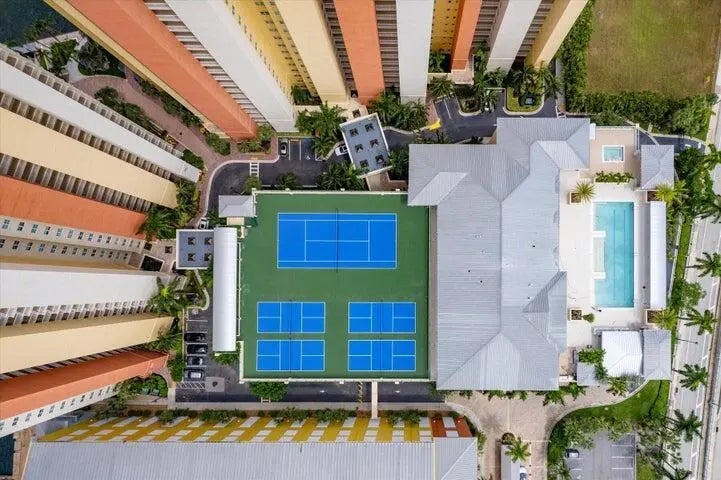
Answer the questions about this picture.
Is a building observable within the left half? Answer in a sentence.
Yes, you'll find a building within the left half.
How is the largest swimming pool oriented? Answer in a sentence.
What the image shows is the largest swimming pool lying vertically.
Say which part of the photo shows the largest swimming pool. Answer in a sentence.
The largest swimming pool is in the right part of the image.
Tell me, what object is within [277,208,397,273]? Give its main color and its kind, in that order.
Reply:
blue tennis court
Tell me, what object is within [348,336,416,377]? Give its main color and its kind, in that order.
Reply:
blue sports court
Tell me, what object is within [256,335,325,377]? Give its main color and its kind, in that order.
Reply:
blue sports court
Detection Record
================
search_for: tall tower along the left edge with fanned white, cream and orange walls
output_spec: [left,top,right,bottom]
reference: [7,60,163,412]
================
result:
[0,45,200,439]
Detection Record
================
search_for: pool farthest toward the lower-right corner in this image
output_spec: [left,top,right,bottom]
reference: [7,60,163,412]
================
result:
[592,200,636,309]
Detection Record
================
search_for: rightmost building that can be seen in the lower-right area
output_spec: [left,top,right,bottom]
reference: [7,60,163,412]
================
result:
[641,329,672,381]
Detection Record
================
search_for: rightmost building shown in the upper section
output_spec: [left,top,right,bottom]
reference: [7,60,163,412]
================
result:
[637,145,675,191]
